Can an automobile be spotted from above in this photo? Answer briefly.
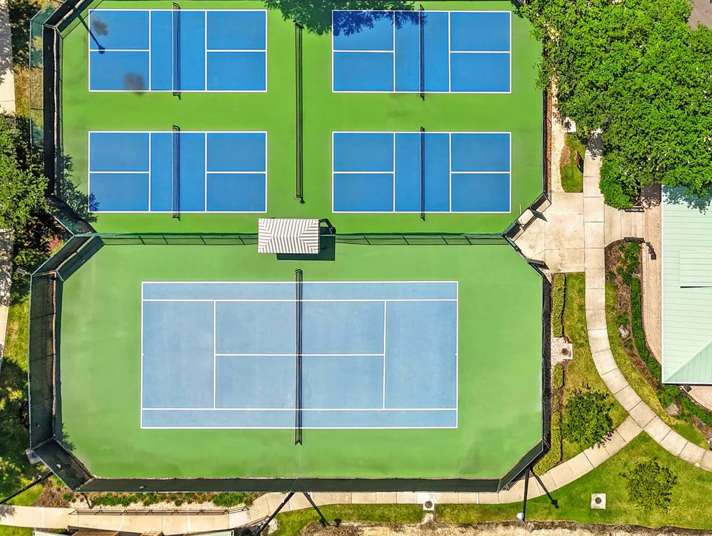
No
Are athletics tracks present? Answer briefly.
No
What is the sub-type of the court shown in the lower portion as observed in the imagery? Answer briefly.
tennis court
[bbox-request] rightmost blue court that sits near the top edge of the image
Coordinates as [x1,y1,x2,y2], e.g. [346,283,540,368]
[333,10,510,93]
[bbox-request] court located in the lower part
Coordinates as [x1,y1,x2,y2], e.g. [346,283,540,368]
[58,239,543,476]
